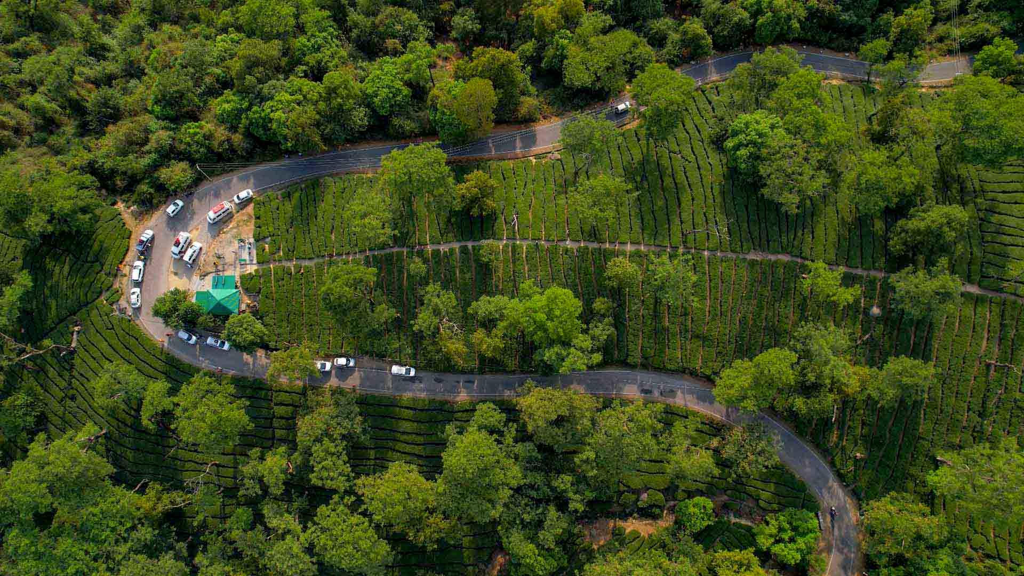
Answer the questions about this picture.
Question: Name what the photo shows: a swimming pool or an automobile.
automobile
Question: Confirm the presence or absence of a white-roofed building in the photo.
No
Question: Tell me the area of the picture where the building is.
left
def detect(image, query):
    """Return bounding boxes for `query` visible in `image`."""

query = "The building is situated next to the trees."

[192,276,242,317]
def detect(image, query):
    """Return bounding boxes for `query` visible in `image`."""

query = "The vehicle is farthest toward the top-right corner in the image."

[613,103,632,117]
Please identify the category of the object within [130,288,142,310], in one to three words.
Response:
vehicle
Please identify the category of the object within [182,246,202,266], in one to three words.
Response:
vehicle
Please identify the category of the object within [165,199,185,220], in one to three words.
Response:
car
